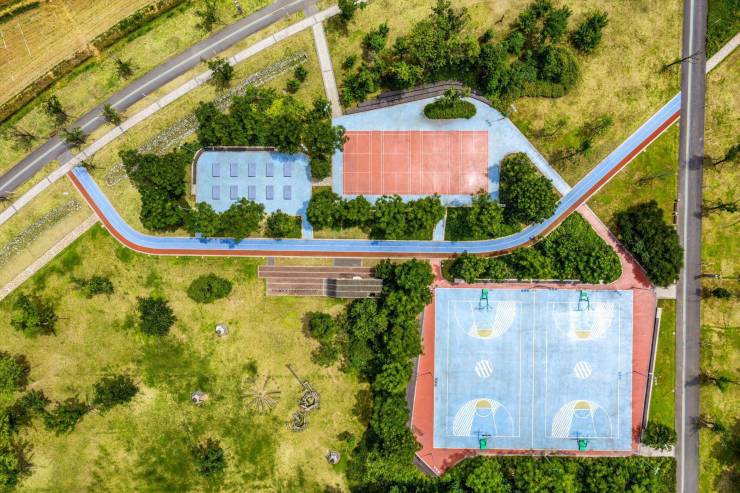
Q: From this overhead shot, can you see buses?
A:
No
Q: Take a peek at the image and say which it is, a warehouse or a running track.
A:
running track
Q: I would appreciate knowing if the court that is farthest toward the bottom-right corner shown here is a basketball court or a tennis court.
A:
basketball court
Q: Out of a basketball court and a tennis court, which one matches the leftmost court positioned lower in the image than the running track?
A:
basketball court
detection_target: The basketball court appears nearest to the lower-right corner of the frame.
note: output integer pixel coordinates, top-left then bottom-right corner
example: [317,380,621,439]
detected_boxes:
[533,289,632,450]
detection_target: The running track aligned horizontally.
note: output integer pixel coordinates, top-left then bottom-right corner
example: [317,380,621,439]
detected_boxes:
[66,93,682,259]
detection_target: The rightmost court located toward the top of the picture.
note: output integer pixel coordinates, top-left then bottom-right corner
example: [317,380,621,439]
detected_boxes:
[455,131,489,195]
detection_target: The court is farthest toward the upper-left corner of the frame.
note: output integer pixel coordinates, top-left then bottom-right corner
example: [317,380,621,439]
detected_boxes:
[343,130,377,195]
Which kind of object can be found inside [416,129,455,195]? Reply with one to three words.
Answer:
sports court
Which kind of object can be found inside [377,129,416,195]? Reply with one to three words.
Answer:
sports court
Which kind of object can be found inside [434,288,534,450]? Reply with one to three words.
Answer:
basketball court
